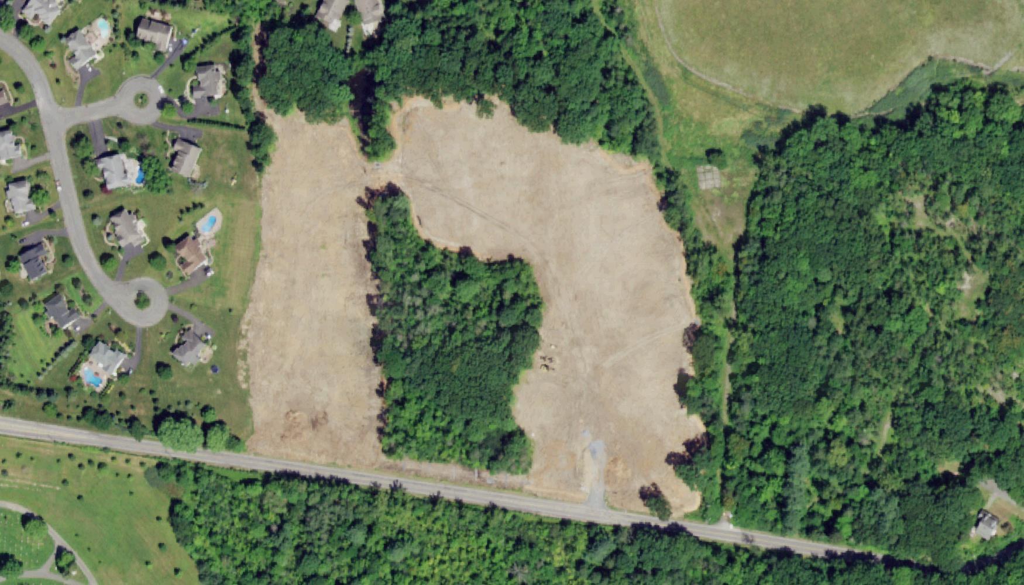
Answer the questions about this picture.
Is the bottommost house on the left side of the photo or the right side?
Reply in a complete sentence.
It is on the right.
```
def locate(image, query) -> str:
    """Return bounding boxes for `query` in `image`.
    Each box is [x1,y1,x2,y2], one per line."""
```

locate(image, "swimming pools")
[97,18,110,39]
[200,214,217,233]
[136,164,145,184]
[83,368,103,387]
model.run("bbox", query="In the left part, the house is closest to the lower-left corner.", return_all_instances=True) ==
[87,339,129,379]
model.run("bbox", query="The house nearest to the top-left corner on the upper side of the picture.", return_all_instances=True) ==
[20,0,63,31]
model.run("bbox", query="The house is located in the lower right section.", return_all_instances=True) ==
[973,508,1000,544]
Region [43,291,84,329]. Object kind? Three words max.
house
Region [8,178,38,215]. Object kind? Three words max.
house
